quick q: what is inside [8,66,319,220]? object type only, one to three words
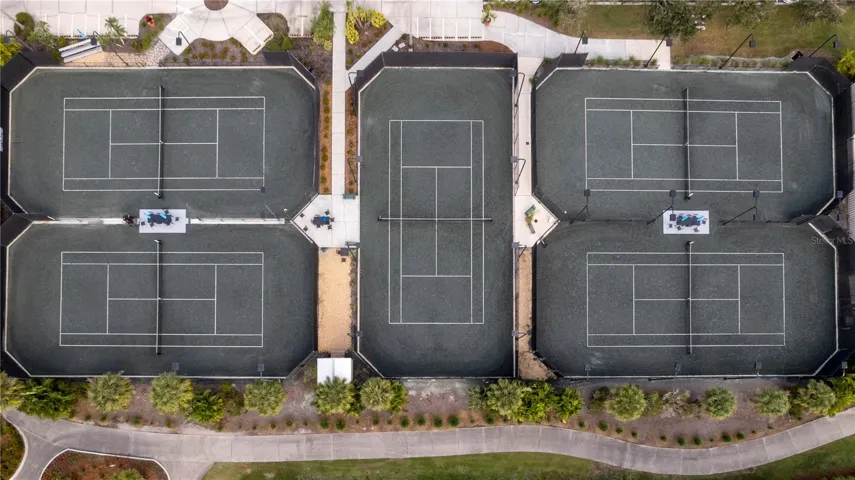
tennis court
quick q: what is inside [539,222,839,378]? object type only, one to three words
tennis court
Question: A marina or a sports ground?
sports ground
